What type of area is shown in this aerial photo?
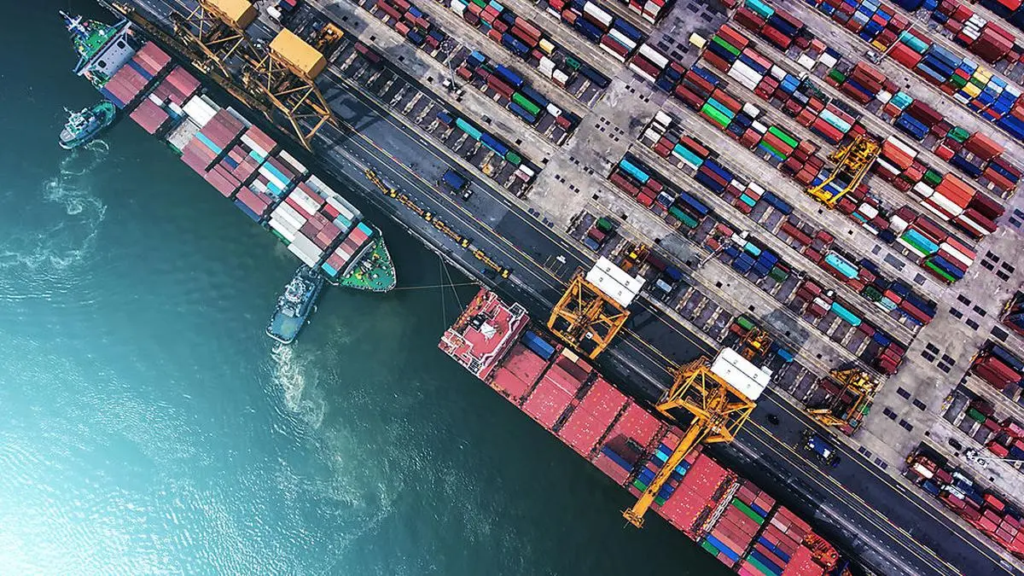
port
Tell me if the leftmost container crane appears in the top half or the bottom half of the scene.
top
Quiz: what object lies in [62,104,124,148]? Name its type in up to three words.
boat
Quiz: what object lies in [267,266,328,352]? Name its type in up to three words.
boat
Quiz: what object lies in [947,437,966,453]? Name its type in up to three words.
car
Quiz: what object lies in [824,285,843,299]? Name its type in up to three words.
vehicle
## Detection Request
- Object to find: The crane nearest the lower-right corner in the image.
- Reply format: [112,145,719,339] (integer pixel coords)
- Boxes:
[800,366,888,439]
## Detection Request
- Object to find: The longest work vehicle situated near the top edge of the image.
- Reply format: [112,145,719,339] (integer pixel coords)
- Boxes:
[310,11,344,41]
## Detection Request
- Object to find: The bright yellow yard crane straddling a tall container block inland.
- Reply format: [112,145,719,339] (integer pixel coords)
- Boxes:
[808,134,890,213]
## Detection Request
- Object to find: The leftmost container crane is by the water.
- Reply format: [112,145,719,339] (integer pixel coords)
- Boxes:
[151,0,277,106]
